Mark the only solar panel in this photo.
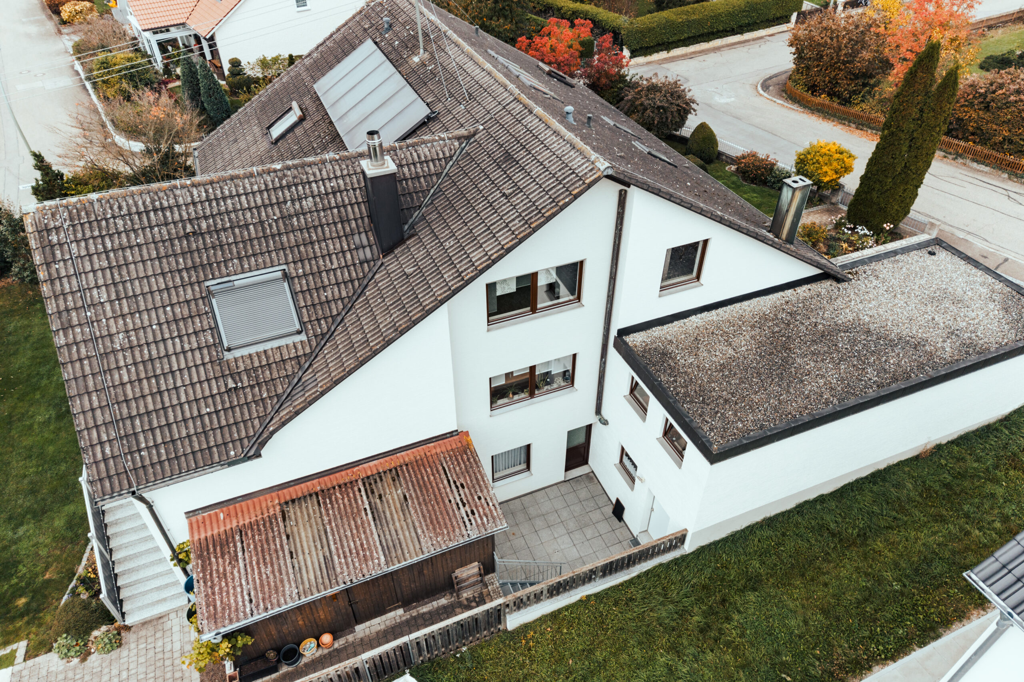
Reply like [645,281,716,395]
[309,34,435,146]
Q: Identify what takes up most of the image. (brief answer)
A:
buildings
